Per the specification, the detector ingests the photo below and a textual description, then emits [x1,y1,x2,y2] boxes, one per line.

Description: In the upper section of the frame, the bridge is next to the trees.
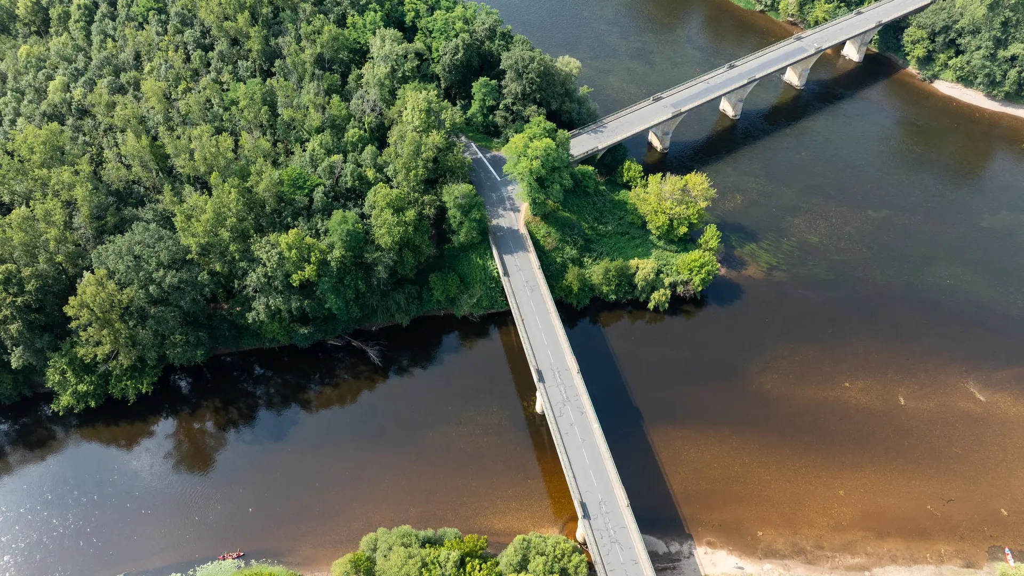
[552,0,936,162]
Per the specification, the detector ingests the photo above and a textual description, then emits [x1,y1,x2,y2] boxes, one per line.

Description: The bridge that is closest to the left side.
[489,227,654,576]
